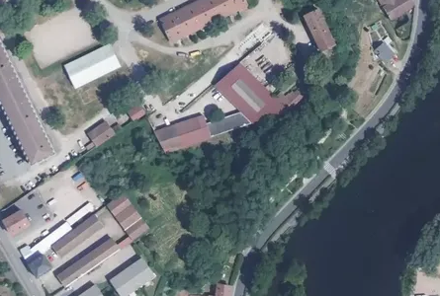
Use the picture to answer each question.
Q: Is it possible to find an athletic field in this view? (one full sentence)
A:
Yes, an athletic field can be made out from above.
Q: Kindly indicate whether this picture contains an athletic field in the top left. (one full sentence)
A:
Yes, there is an athletic field in the top left.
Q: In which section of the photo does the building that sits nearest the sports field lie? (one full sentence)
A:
The building that sits nearest the sports field is in the top left part of the image.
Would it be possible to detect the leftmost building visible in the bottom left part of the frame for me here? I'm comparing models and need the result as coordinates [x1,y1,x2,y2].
[0,209,30,237]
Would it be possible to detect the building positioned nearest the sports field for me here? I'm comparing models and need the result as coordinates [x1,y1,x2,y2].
[63,42,120,89]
